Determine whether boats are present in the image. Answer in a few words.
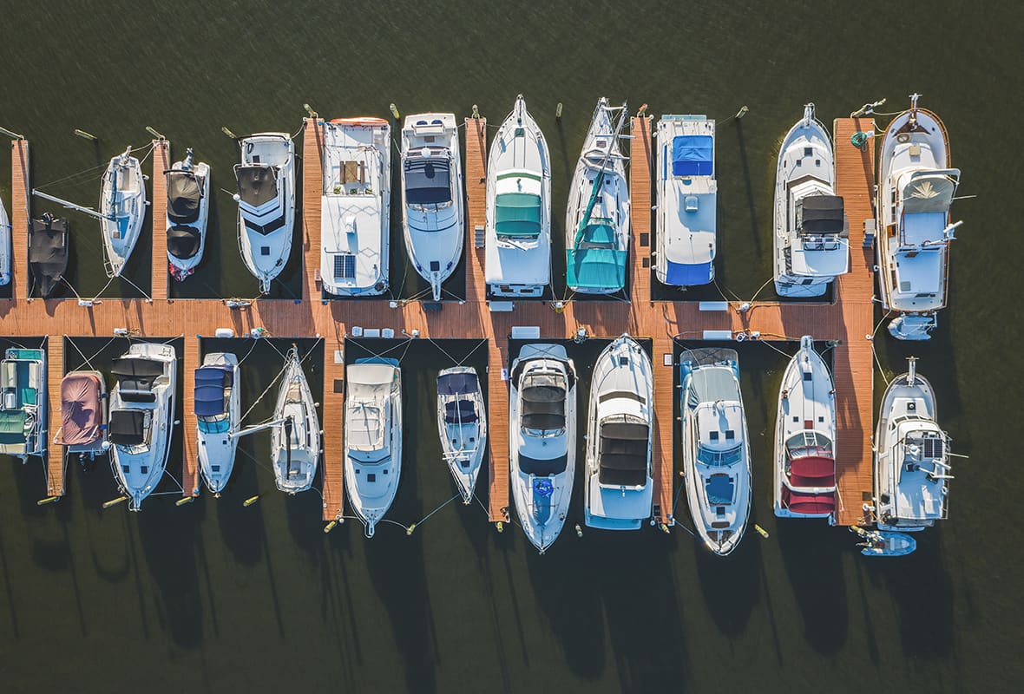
Yes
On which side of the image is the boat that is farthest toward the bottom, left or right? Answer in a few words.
right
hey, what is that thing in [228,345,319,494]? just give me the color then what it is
white boat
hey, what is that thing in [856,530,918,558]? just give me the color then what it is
blue boat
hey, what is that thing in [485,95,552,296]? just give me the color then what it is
white boat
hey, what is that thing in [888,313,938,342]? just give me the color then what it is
blue boat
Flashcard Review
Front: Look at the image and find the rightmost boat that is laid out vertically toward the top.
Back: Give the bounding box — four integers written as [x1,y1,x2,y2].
[875,93,976,312]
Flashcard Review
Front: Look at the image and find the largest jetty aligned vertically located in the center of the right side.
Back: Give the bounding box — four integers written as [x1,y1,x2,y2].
[833,118,875,526]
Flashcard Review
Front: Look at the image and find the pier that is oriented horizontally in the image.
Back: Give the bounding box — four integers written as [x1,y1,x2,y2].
[0,298,835,340]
